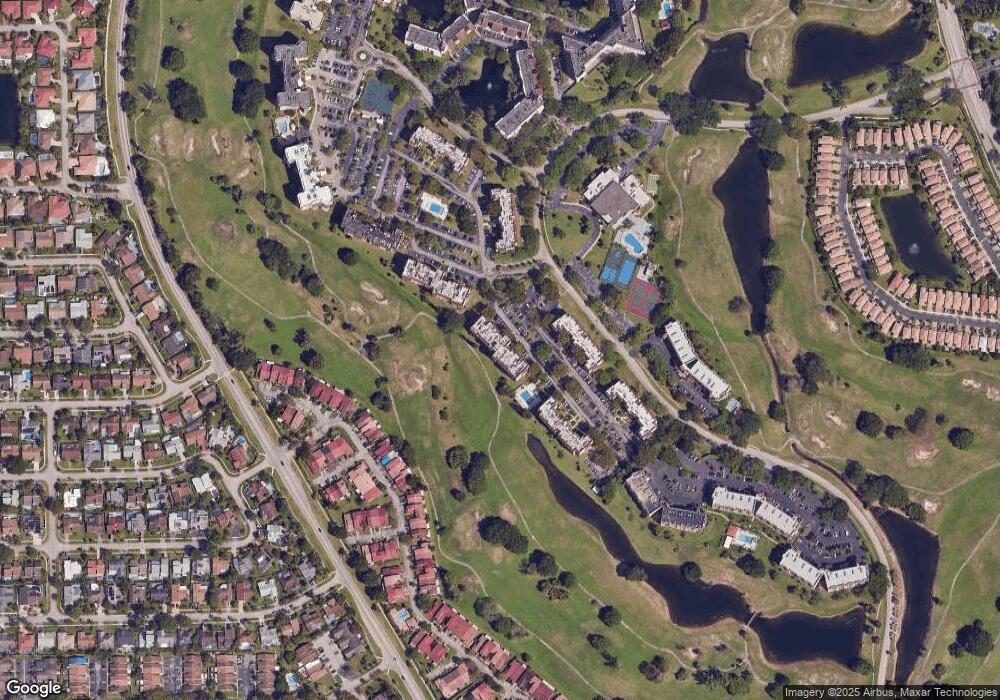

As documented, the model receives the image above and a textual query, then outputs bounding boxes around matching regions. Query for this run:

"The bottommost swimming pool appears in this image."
[285,672,299,690]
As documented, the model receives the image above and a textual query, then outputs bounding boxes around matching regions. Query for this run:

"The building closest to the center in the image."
[470,315,529,384]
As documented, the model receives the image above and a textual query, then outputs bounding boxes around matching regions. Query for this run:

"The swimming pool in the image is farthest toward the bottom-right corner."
[733,530,757,549]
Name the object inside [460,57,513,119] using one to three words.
pond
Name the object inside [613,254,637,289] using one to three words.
tennis court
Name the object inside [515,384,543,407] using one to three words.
swimming pool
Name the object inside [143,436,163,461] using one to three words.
house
